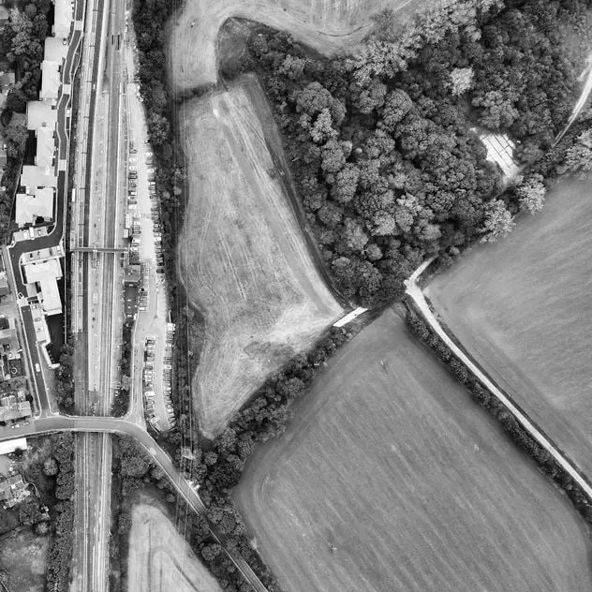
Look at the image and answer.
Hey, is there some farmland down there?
Yes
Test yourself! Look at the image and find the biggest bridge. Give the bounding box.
[34,415,145,437]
